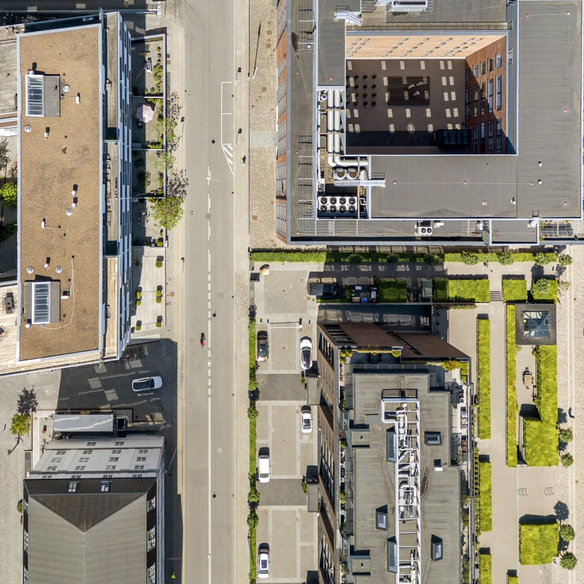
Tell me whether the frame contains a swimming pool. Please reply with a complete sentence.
No, the frame has no swimming pool in it.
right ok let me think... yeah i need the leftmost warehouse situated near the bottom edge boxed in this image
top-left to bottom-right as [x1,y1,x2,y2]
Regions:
[23,436,166,584]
